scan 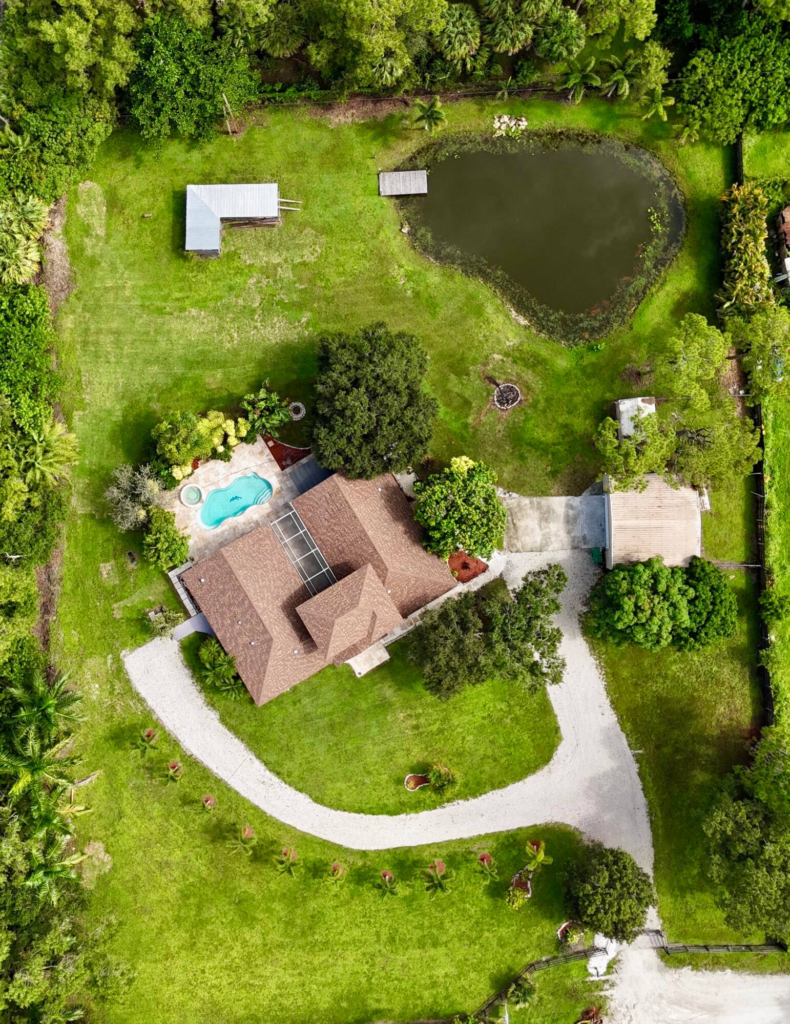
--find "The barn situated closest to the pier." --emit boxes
[185,183,282,258]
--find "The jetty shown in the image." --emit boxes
[377,169,427,199]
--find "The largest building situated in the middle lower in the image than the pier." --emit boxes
[181,454,457,707]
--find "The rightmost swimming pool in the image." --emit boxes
[198,471,275,531]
